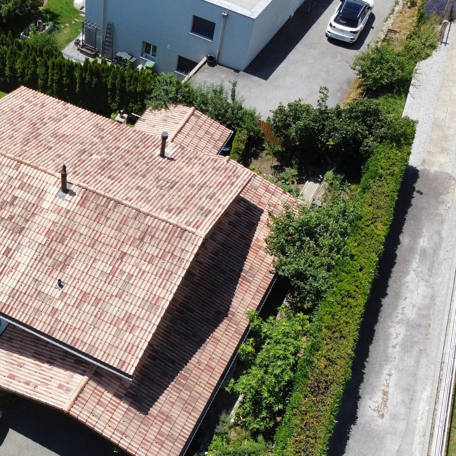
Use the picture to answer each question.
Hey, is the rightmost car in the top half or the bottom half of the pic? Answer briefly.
top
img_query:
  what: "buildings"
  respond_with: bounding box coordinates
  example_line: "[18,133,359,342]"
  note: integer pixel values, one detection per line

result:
[86,0,300,80]
[0,86,309,456]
